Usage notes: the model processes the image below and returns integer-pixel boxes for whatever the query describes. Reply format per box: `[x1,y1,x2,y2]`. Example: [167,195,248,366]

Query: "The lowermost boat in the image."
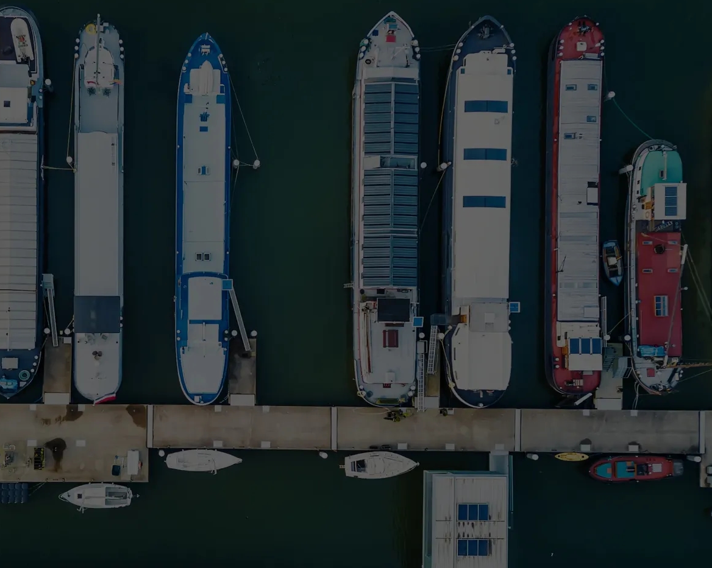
[59,482,141,513]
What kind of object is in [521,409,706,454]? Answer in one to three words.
pier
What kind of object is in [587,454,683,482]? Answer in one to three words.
boat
